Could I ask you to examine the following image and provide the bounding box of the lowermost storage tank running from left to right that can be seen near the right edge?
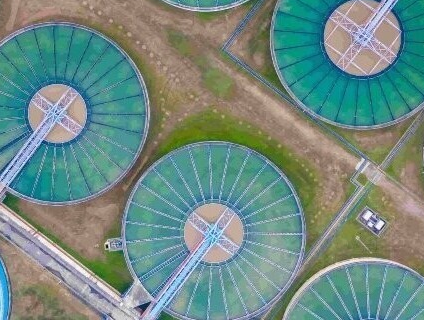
[281,258,424,320]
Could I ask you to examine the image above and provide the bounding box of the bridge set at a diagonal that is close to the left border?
[0,111,59,200]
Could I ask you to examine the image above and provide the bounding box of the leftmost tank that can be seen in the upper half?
[0,20,150,206]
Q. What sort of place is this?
industrial area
